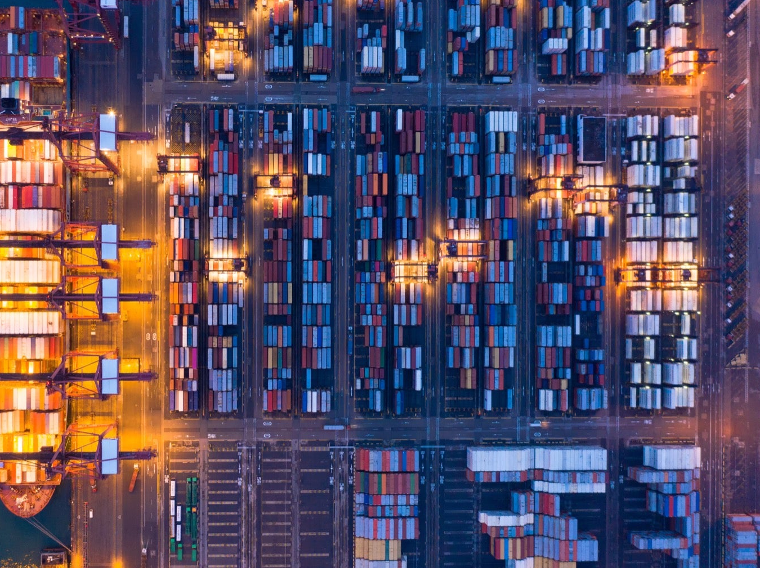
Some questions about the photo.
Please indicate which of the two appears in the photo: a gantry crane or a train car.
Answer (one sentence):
Visible in the photo is a gantry crane.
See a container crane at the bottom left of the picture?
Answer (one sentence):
Yes, looking at the bottom left of the picture, one can make out a container crane.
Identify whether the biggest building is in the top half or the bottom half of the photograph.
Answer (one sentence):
The biggest building sits in the top half of the picture.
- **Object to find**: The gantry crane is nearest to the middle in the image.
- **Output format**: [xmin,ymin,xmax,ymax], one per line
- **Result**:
[387,260,439,283]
